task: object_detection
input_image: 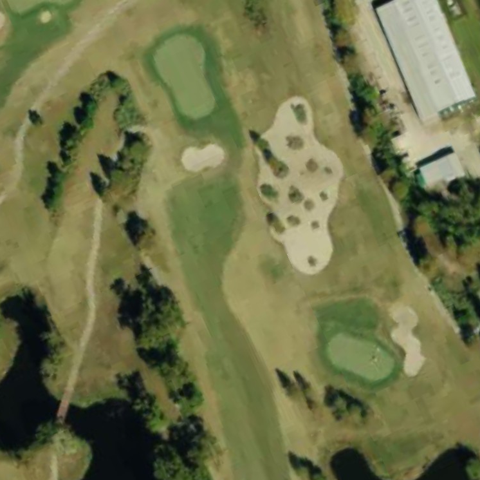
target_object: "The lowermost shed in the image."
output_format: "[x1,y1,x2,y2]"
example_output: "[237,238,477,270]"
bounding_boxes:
[415,151,466,192]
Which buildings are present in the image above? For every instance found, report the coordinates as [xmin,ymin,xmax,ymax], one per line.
[415,151,466,192]
[366,0,478,127]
